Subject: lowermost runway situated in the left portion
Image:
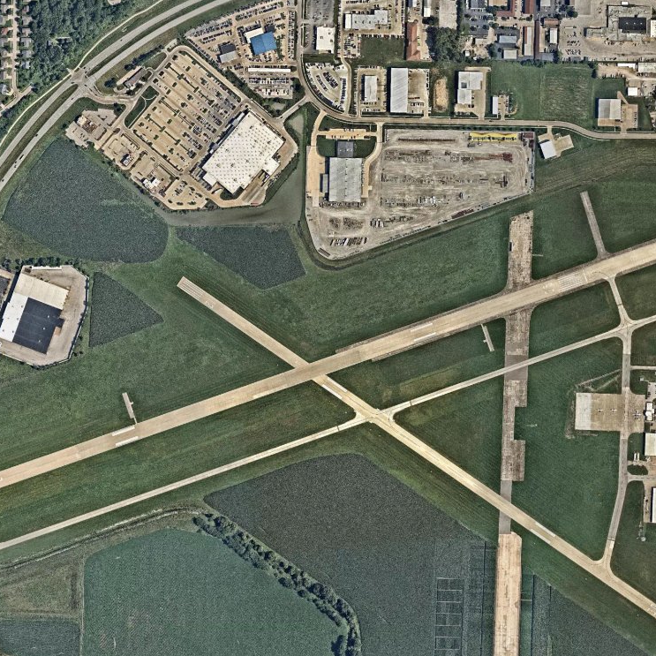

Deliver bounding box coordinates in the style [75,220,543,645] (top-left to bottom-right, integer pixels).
[0,357,352,489]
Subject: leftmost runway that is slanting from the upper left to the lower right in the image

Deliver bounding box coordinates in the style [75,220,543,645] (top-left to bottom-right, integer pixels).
[177,277,330,385]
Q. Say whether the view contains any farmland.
Yes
